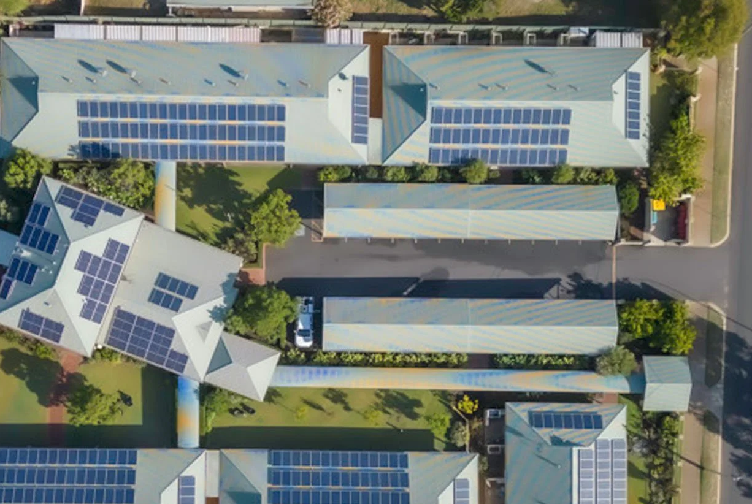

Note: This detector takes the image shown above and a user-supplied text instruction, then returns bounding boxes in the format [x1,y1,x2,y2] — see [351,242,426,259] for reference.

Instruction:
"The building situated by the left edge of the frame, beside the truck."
[0,175,280,400]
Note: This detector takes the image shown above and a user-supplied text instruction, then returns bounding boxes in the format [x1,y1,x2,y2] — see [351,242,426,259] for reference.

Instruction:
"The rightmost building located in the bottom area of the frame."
[633,357,695,412]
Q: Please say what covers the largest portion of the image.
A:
buildings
